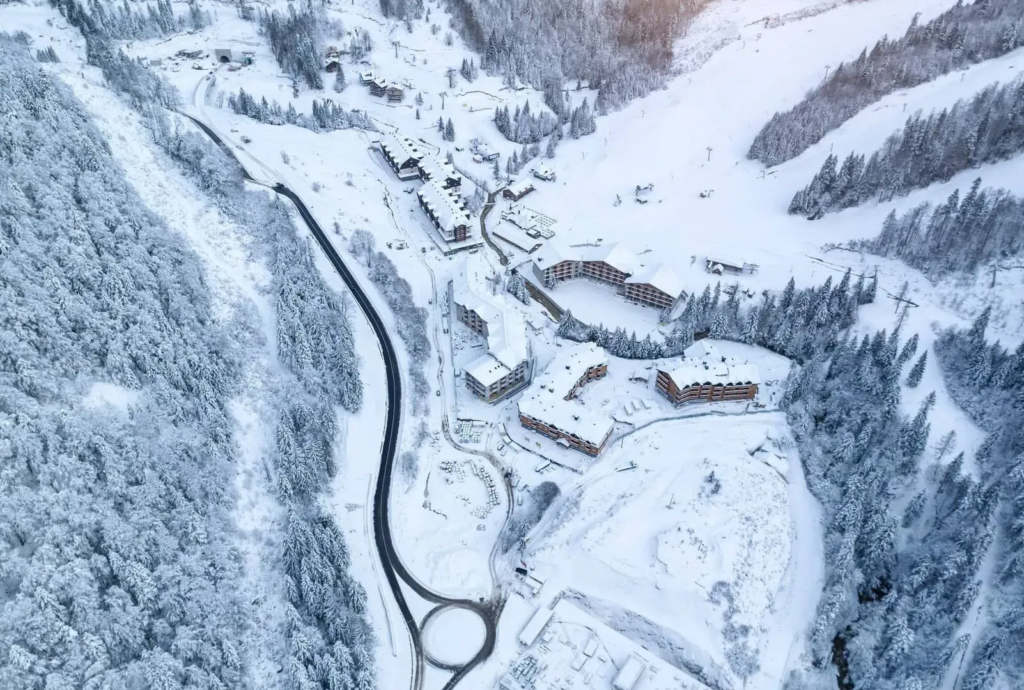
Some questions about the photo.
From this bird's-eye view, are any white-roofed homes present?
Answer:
Yes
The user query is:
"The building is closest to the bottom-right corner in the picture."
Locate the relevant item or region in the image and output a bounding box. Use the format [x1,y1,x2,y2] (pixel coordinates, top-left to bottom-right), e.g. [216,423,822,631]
[612,656,646,690]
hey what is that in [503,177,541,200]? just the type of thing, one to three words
barn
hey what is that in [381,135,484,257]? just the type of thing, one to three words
building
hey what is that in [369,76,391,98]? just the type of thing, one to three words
house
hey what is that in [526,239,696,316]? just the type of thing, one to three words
building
